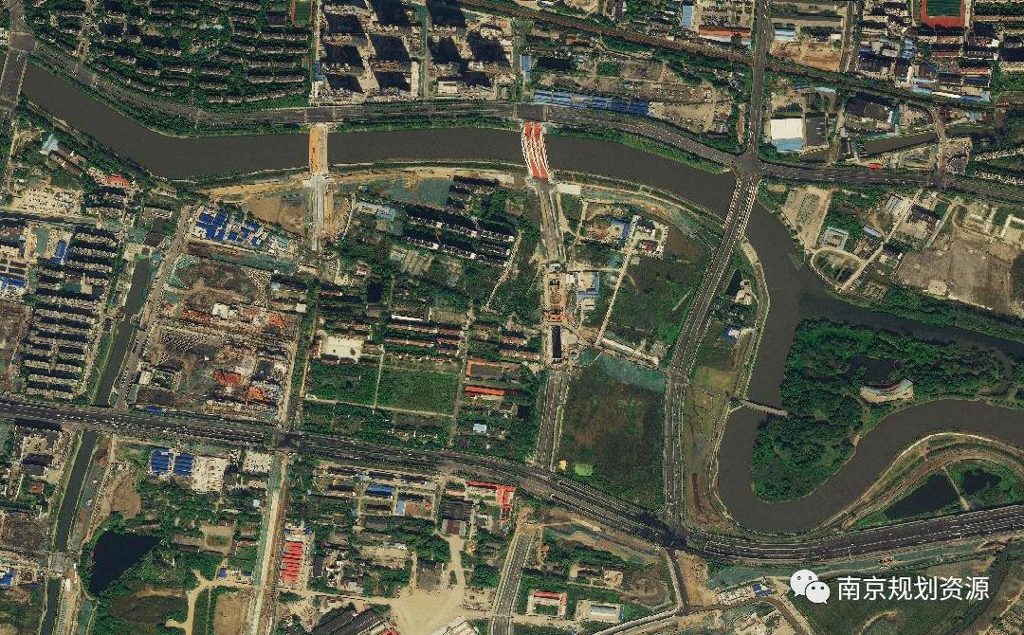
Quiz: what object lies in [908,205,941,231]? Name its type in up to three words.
building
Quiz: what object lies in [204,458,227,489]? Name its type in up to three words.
building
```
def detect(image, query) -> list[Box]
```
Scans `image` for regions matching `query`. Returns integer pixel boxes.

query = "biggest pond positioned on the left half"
[90,531,158,594]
